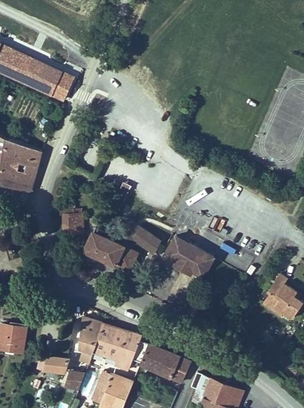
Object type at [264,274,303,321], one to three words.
house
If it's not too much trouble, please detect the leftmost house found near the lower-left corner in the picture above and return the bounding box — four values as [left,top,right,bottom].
[0,324,28,354]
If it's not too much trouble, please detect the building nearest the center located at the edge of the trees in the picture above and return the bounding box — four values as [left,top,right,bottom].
[132,226,162,254]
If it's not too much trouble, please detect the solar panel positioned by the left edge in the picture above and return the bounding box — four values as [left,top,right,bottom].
[0,66,52,95]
